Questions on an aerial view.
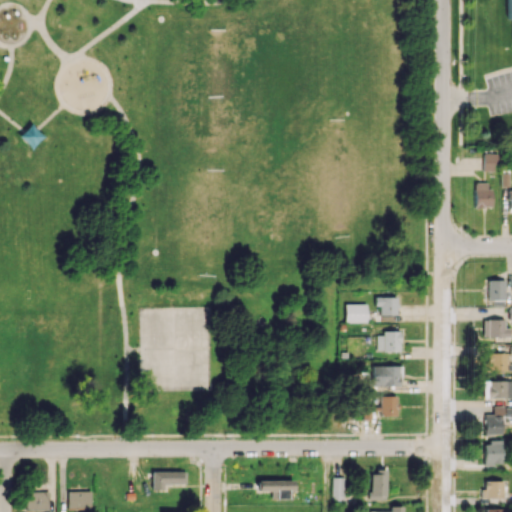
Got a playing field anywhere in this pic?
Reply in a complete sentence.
Yes, a playing field is visible in the scene.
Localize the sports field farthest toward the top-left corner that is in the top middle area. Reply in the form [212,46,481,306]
[191,30,242,98]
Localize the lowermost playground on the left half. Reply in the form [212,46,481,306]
[54,56,113,116]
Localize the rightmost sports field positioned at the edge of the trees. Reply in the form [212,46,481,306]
[302,120,373,238]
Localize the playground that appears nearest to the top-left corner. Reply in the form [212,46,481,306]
[0,2,32,48]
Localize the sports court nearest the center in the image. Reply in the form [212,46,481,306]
[140,308,210,392]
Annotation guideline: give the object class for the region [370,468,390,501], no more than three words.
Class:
house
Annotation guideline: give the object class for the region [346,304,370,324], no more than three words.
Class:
building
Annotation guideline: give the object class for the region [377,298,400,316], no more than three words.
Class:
house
